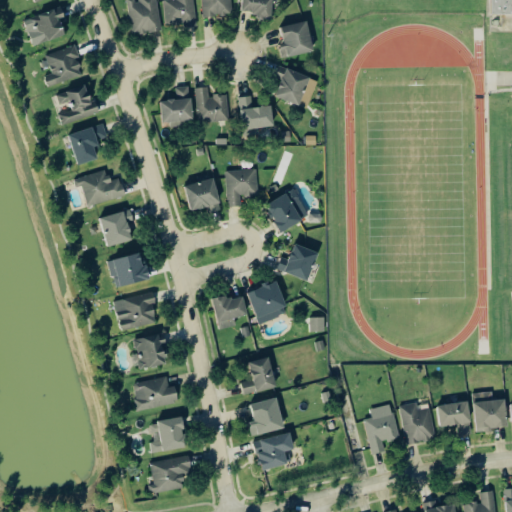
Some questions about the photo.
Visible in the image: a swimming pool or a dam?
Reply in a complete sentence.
The one in the frame is a swimming pool.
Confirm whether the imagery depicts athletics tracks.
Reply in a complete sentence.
Yes, I can see an athletics track in this picture.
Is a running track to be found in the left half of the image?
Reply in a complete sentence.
No, no running track is visible in the left half of the image.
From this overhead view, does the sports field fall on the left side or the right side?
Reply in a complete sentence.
The sports field appears in the right half of the scene.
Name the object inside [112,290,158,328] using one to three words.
house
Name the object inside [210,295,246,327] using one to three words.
house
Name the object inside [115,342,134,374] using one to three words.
swimming pool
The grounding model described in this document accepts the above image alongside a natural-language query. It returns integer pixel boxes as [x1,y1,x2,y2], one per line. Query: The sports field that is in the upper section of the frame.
[367,84,466,300]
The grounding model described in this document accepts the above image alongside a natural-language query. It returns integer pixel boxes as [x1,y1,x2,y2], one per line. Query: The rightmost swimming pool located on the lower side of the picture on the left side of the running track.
[260,316,292,340]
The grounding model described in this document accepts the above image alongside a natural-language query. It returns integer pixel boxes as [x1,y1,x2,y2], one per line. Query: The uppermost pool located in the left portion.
[67,180,87,211]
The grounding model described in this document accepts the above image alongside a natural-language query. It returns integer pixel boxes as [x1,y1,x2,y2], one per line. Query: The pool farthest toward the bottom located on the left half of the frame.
[132,436,145,456]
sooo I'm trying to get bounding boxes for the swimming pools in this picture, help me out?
[115,342,134,374]
[295,181,319,210]
[260,316,292,340]
[67,180,87,211]
[132,436,145,456]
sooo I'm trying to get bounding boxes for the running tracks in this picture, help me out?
[344,24,490,360]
